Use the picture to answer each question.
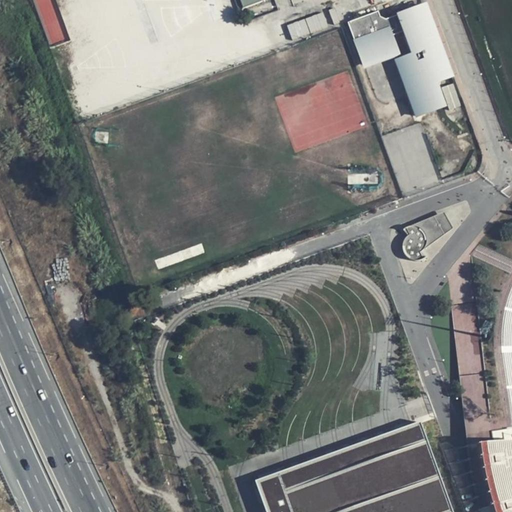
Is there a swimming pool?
No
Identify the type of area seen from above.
sports ground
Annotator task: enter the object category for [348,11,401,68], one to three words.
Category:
building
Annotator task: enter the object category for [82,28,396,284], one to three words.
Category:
sports field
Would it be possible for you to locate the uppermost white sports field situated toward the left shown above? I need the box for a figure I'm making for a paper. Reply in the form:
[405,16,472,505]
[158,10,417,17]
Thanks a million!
[54,0,340,120]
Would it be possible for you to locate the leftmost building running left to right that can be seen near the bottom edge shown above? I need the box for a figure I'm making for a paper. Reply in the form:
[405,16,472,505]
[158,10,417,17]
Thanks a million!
[256,424,452,512]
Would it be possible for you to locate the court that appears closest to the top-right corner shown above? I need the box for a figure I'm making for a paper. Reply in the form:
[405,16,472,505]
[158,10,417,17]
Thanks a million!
[384,124,439,194]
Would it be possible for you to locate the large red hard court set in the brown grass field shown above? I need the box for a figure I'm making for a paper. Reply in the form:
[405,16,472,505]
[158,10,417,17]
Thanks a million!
[275,70,368,152]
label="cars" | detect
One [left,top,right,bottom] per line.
[460,494,470,500]
[48,456,56,468]
[7,406,15,417]
[19,364,27,375]
[464,504,475,511]
[20,458,29,470]
[65,452,73,464]
[38,389,46,400]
